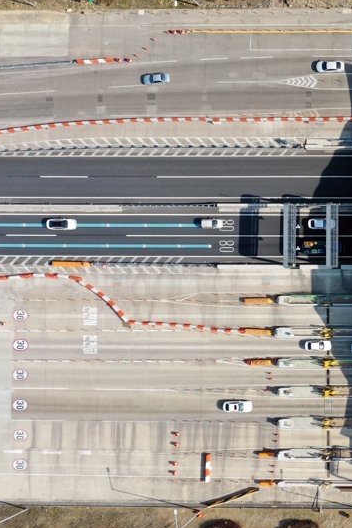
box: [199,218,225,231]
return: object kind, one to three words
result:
vehicle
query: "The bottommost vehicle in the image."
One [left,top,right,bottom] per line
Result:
[221,400,253,414]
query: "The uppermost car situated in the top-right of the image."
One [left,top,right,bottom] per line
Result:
[316,58,345,73]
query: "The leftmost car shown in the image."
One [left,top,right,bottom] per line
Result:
[46,217,79,231]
